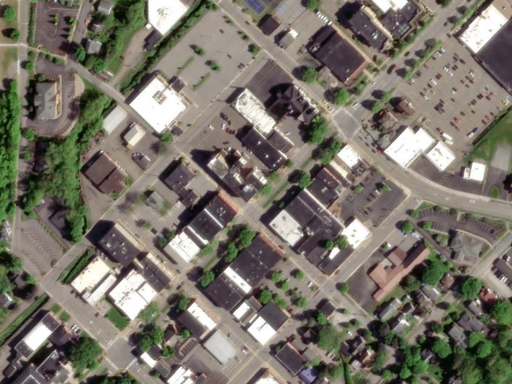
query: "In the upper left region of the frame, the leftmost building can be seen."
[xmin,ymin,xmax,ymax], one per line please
[35,82,60,119]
